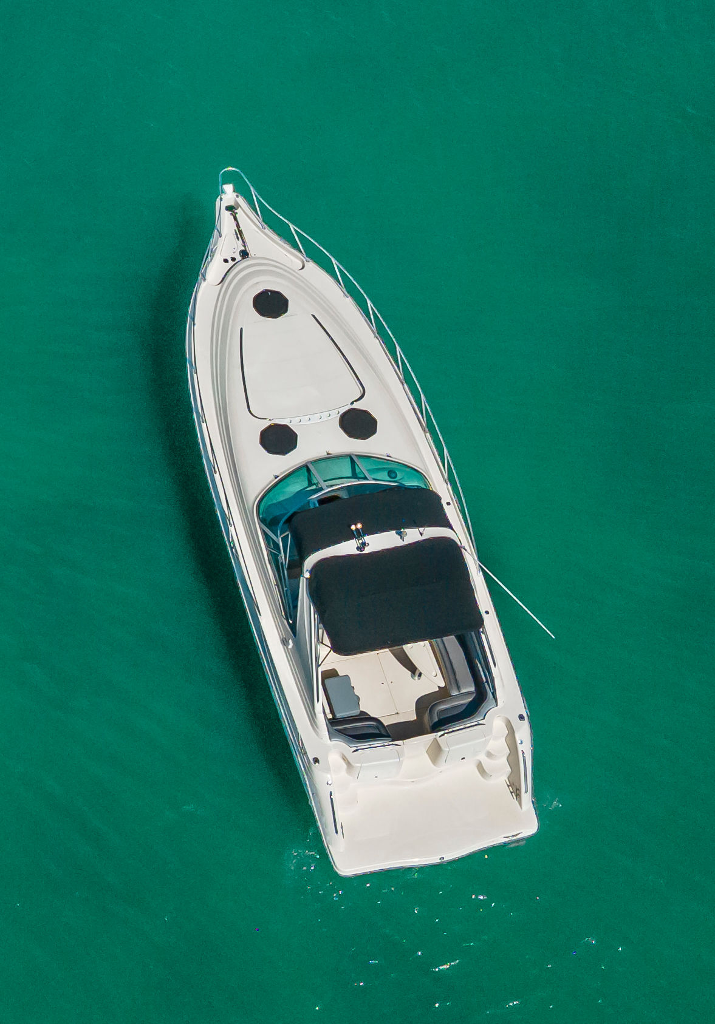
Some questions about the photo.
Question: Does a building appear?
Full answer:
No, I can see no building in this picture.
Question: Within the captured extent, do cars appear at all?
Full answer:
No, I can see no car in this picture.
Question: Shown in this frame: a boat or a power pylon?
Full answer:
This aerial view contains a boat.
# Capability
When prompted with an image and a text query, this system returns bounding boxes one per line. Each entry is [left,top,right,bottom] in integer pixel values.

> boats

[187,166,554,881]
